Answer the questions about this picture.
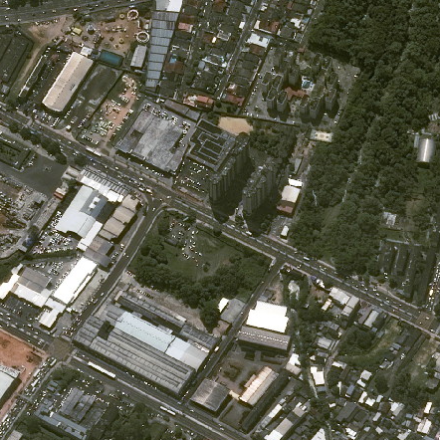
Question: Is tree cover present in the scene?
Yes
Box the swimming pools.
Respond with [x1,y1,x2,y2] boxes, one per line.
[99,50,124,67]
[302,76,315,90]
